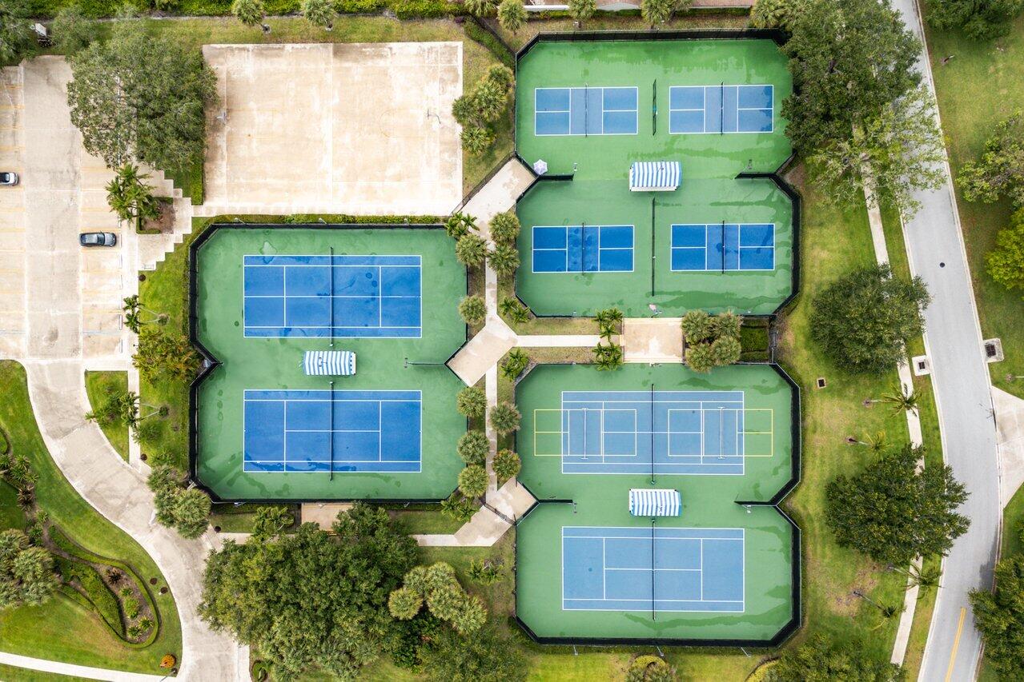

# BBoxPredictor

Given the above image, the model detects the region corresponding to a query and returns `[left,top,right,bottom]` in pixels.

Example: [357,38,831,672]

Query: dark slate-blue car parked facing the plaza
[79,230,118,248]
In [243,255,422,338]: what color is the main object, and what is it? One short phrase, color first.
blue tennis court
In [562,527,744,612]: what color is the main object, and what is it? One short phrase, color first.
blue tennis court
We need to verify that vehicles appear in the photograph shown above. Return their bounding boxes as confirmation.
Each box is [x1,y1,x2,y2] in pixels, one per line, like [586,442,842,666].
[0,170,20,186]
[79,230,118,248]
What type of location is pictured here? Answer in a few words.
sports ground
